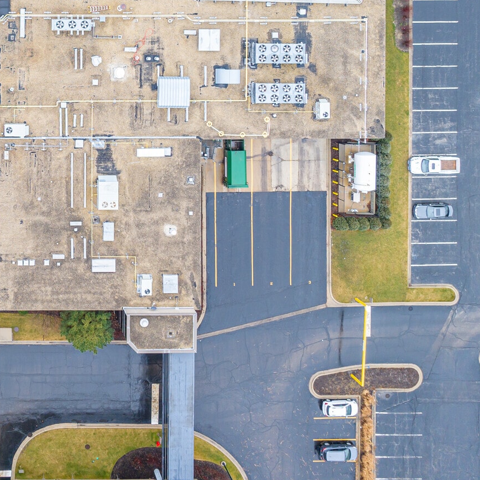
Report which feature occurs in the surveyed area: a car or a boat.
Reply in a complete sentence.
Looking from above, you can make out a car.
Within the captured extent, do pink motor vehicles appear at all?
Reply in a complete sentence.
No, there isn't any pink motor vehicle down there.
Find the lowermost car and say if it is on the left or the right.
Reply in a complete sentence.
You can find the lowermost car on the right side of the picture.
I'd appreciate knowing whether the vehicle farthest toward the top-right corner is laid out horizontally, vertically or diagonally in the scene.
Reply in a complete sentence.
From this overhead view, the vehicle farthest toward the top-right corner appears to run horizontally.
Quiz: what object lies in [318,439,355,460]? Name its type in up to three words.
car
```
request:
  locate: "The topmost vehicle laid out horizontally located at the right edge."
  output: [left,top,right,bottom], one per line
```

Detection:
[408,156,461,175]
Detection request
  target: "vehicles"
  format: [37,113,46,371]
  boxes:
[408,156,461,175]
[318,439,355,460]
[410,202,452,221]
[321,397,356,418]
